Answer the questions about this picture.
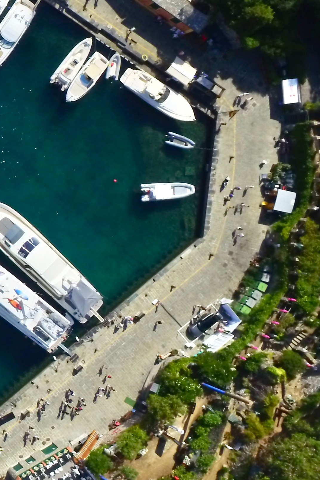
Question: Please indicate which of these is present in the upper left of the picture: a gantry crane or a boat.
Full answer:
Visible in the upper left of the picture is a boat.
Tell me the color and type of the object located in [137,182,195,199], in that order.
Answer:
white boat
